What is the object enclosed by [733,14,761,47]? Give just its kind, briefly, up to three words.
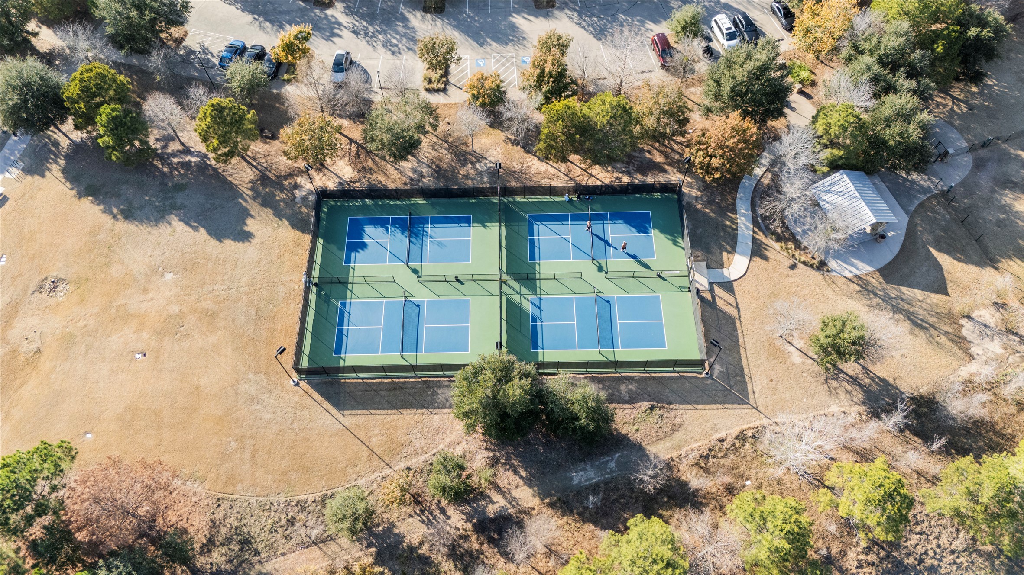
car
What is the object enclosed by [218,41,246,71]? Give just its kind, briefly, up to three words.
car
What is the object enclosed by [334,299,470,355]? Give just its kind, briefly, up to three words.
sports court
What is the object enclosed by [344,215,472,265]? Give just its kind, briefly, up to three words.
sports court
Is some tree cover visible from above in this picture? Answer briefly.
Yes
